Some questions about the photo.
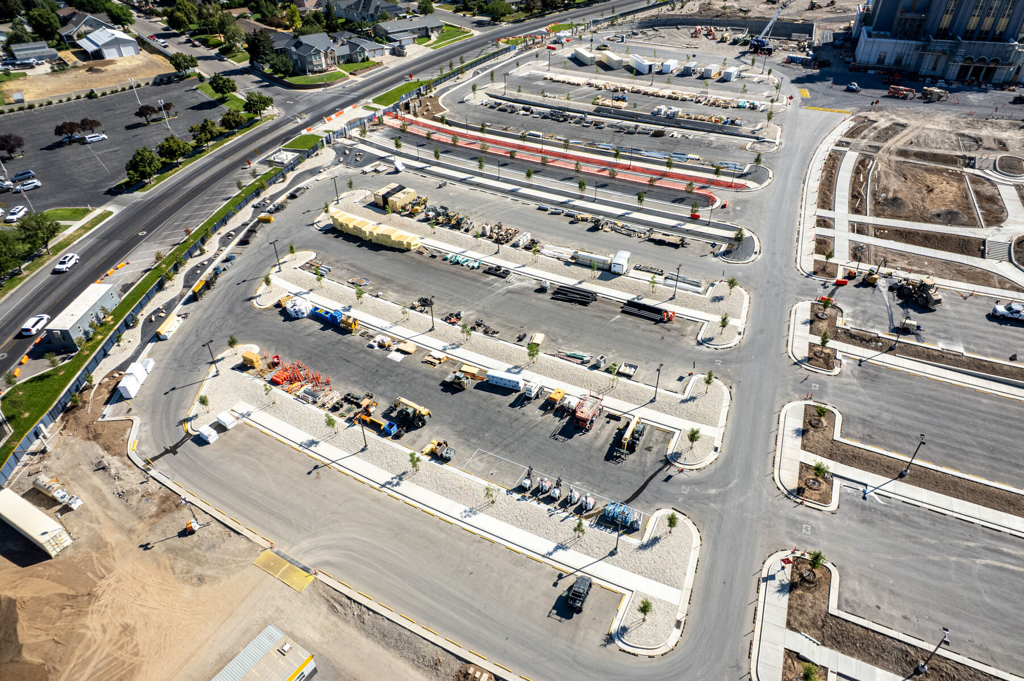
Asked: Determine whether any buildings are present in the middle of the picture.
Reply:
No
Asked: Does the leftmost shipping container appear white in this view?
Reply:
Yes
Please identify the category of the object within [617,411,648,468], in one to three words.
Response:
work vehicle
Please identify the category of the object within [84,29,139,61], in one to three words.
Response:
building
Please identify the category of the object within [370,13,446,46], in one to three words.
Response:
house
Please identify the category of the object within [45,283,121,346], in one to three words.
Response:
trailer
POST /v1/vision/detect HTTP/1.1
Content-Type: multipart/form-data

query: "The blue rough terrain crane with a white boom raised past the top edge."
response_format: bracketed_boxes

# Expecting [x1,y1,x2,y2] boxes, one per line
[735,0,792,56]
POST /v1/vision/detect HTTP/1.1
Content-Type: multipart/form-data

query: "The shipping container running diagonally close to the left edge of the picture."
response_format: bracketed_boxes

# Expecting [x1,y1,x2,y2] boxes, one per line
[0,483,72,552]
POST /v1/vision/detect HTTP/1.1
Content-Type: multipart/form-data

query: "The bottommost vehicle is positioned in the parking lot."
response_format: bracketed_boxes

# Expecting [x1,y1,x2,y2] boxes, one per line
[563,572,594,621]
